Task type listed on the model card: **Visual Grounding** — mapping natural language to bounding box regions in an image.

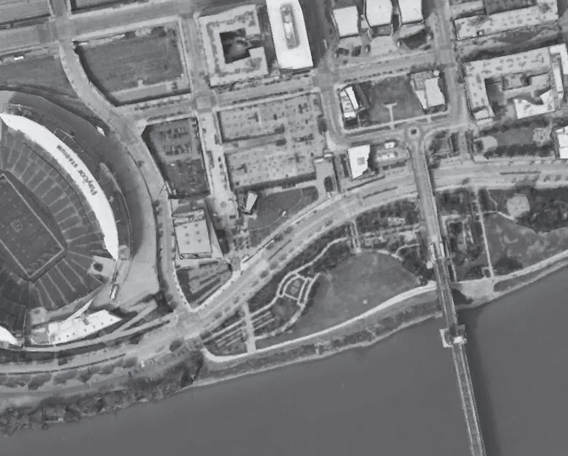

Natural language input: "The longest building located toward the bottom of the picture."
[49,309,122,344]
